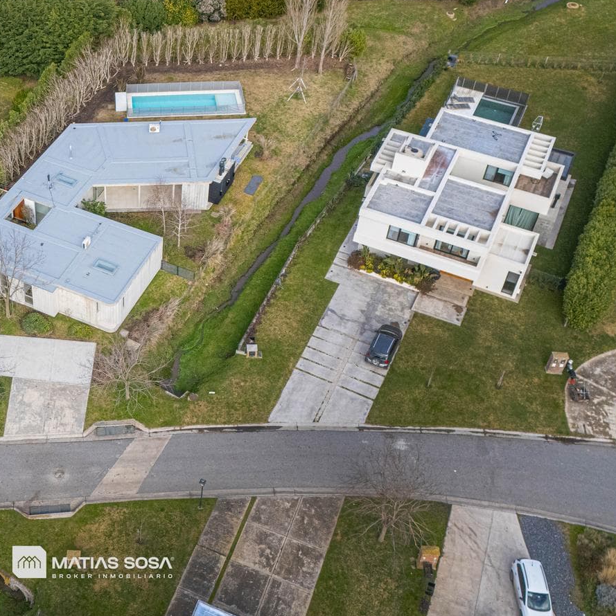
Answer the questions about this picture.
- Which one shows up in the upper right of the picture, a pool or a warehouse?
pool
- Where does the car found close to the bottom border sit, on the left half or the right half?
right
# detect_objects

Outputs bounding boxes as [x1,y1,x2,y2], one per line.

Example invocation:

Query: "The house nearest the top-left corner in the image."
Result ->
[0,118,259,336]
